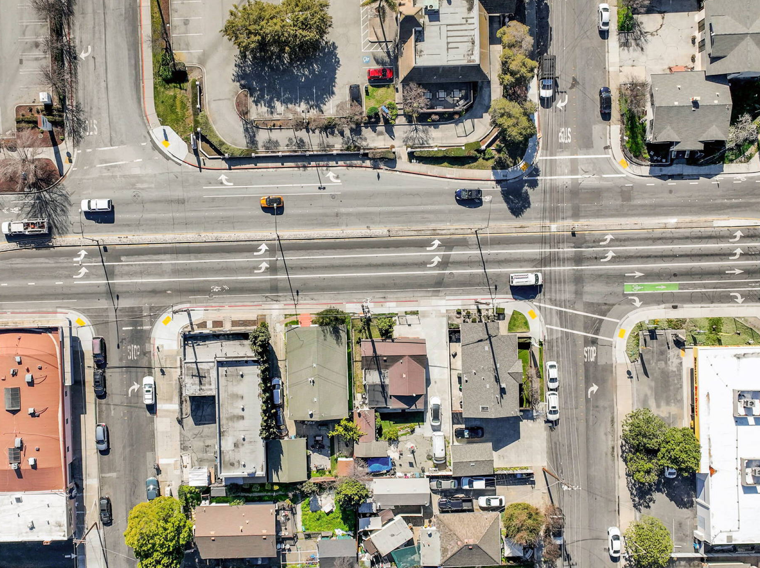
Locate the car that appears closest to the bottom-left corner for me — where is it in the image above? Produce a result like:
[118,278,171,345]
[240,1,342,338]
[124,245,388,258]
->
[98,495,113,523]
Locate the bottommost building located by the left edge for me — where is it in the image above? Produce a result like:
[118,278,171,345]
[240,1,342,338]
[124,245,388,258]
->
[0,493,75,546]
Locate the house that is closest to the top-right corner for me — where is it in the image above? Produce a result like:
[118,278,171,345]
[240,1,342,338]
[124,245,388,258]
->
[688,0,760,84]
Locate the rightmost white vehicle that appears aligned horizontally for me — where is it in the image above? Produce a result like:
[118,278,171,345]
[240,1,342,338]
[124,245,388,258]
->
[508,271,542,287]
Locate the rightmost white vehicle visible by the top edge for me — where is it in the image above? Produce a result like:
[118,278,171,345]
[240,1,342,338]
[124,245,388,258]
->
[596,3,612,32]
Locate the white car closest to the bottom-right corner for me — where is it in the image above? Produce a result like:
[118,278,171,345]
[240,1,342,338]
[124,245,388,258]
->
[606,525,623,557]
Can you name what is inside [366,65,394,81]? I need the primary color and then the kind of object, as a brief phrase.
red car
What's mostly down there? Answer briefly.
paved ground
